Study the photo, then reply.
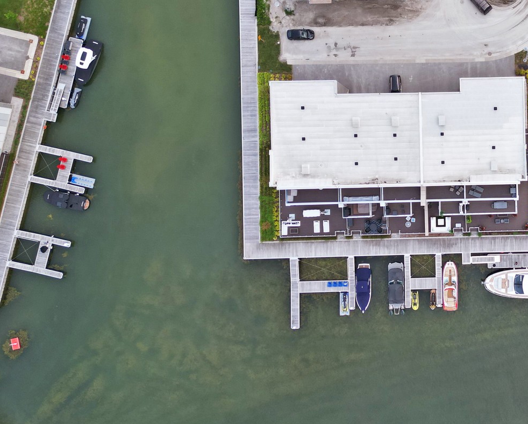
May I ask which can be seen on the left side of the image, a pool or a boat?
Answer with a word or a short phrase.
boat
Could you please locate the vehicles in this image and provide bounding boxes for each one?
[390,74,401,93]
[470,0,492,14]
[287,28,314,41]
